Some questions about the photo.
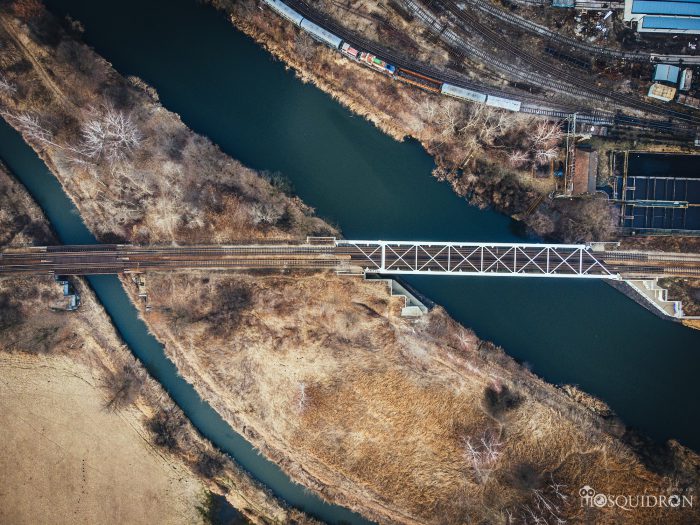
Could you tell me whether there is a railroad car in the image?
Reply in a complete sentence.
Yes, the frame does contain a railroad car.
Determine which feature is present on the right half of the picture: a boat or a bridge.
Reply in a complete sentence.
There is a bridge on the right half of the picture.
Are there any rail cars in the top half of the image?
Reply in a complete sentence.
Yes, a rail car shows up in the top half of the image.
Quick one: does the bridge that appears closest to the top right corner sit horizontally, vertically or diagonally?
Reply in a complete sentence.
I'd say the bridge that appears closest to the top right corner is aligned horizontally in the picture.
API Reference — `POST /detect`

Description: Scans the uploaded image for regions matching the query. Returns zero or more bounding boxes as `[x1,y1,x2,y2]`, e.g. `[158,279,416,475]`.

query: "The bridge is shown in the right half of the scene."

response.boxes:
[334,241,617,278]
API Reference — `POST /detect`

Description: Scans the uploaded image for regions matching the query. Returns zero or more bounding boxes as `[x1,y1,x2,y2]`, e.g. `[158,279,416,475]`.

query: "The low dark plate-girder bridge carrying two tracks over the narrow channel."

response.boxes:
[33,245,144,275]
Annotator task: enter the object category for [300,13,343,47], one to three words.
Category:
rail car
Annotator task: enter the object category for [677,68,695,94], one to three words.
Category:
shed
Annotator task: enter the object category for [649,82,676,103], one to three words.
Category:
shed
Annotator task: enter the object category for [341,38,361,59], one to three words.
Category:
rail car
